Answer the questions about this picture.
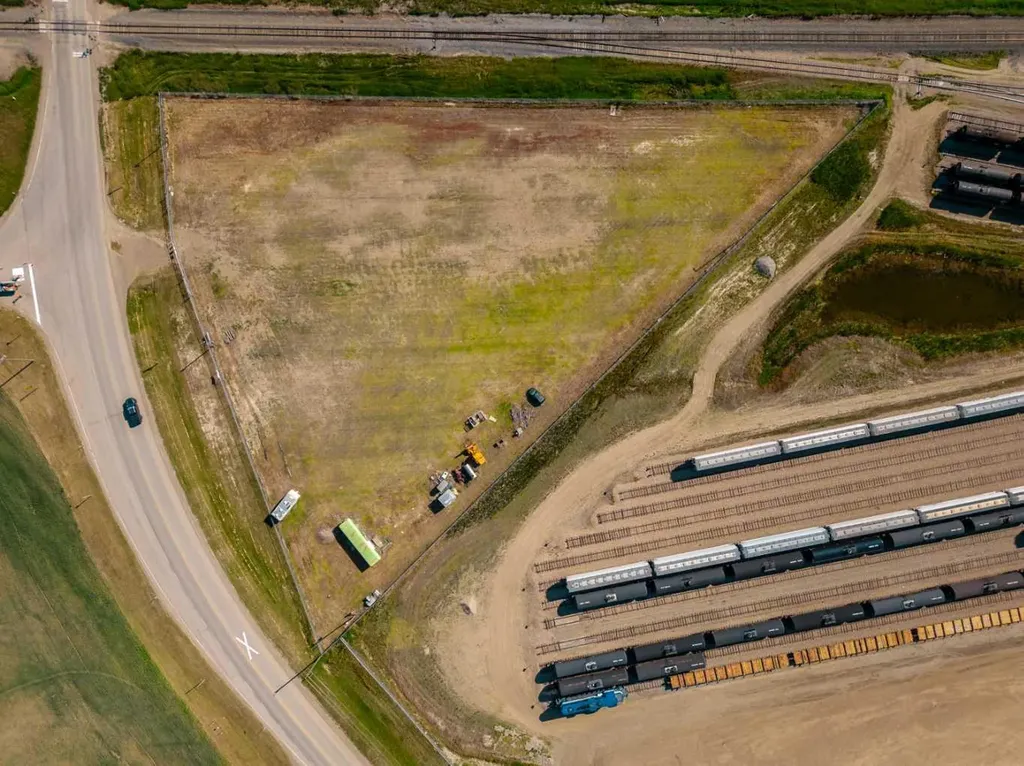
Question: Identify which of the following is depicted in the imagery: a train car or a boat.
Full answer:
There is a train car in the scene.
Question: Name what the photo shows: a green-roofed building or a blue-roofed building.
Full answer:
I can see a green-roofed building in this picture.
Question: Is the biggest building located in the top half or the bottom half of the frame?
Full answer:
It is in the bottom half that the biggest building appears.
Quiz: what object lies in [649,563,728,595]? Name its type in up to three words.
rail car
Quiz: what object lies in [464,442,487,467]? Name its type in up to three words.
work vehicle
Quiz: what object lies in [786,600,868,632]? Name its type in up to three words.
rail car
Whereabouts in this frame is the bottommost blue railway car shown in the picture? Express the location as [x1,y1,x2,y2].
[557,685,626,714]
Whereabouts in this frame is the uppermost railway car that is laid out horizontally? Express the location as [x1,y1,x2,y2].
[957,123,1024,150]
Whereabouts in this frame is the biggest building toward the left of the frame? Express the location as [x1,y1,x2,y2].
[339,516,383,566]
